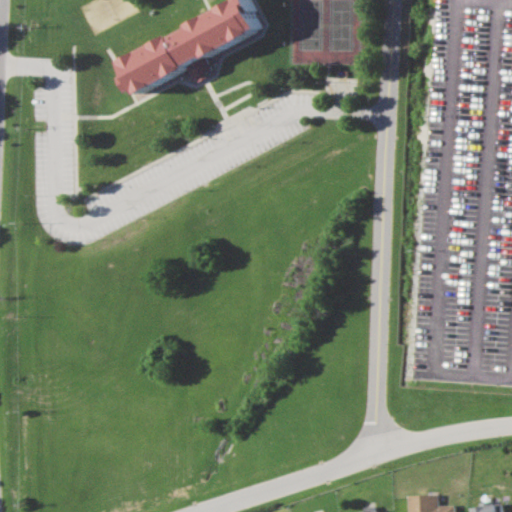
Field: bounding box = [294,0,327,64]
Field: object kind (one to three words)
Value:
tennis court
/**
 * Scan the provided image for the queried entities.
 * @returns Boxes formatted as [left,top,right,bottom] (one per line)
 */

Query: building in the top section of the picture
[108,0,264,94]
